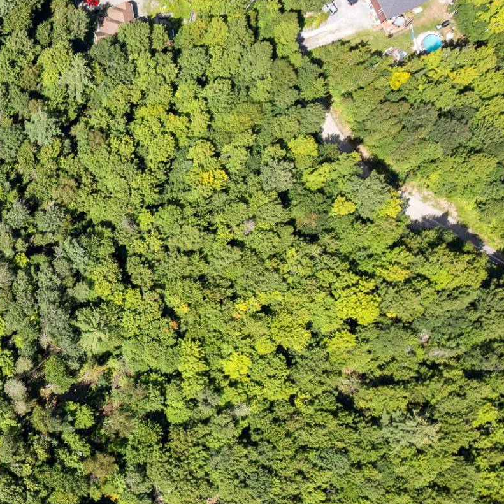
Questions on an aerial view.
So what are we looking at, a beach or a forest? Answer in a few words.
forest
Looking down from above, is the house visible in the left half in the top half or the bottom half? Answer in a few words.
top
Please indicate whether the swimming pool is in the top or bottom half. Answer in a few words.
top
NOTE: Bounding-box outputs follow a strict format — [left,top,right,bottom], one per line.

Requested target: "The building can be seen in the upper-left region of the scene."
[93,2,134,42]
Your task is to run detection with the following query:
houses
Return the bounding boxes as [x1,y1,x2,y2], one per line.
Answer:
[365,0,426,36]
[93,2,134,42]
